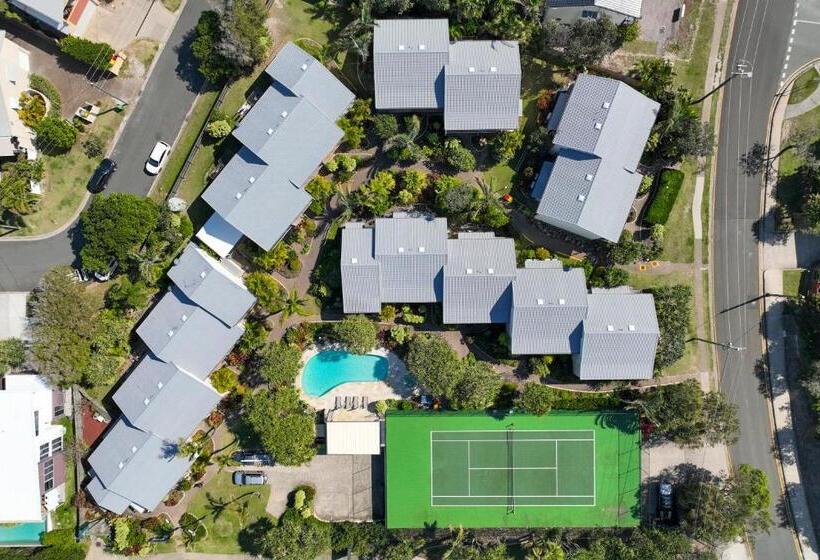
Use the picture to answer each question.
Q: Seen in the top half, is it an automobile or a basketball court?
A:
automobile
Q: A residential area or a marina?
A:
residential area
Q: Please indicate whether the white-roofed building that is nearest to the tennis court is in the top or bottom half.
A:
bottom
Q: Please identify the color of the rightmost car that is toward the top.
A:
white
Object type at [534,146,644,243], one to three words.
house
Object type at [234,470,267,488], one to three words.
car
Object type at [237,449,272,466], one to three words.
car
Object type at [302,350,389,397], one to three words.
swimming pool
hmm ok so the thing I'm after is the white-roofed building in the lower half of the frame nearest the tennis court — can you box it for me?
[328,418,380,454]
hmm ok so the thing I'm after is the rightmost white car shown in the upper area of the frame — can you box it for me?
[147,142,171,174]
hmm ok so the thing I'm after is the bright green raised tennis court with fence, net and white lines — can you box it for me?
[385,409,650,539]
